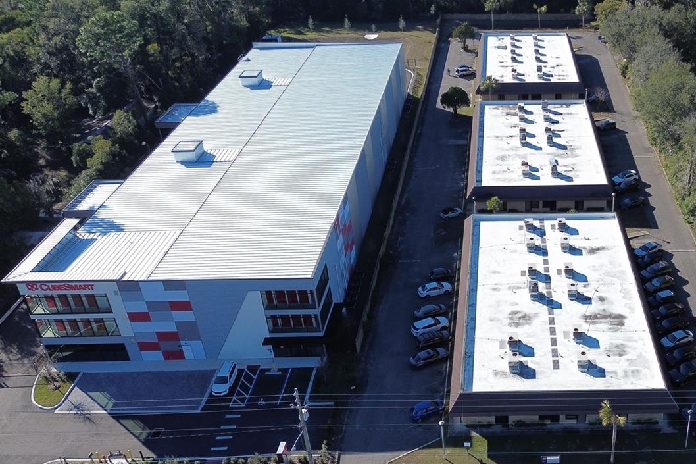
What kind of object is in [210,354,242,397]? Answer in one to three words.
car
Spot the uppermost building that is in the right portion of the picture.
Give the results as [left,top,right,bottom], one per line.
[475,33,586,101]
